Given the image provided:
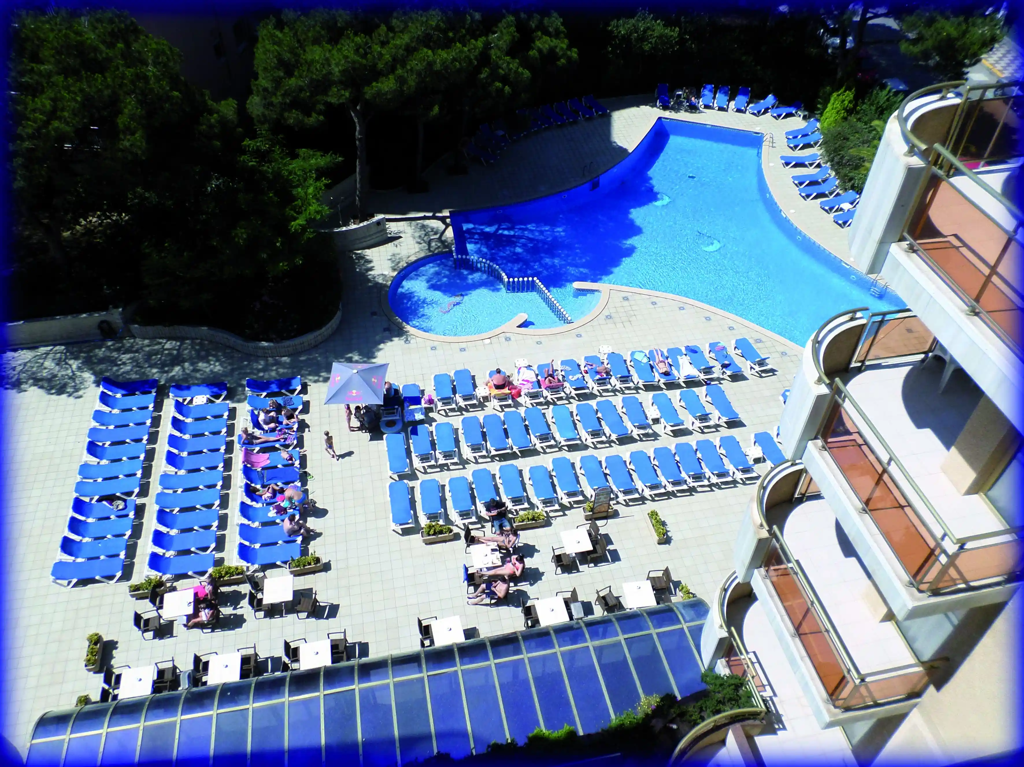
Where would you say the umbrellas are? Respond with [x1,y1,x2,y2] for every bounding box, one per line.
[323,362,390,416]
